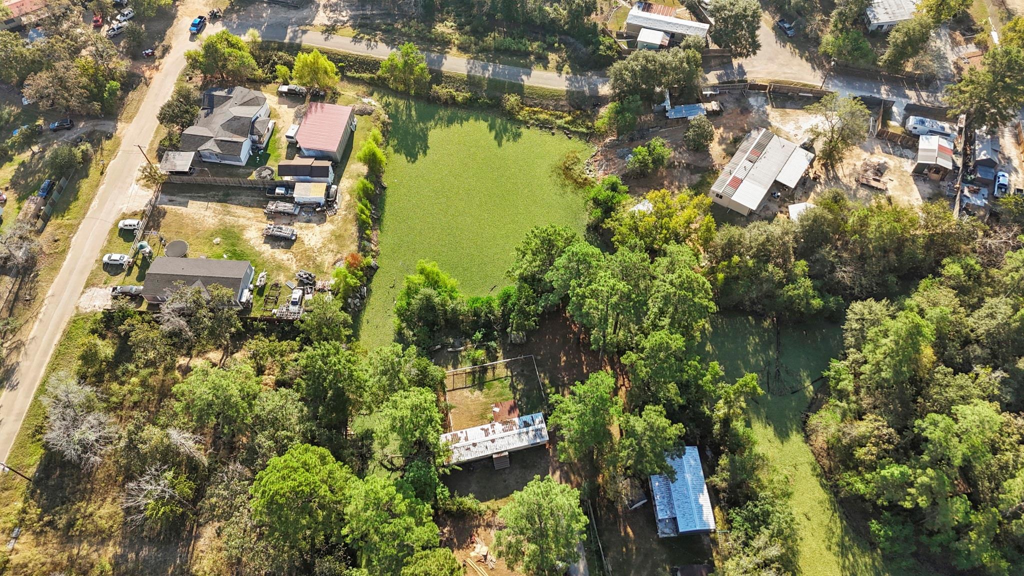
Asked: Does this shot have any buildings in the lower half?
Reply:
Yes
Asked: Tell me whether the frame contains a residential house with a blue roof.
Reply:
Yes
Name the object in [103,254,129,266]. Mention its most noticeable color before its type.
white vehicle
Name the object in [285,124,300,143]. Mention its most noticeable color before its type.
white vehicle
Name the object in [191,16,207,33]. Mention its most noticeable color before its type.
blue vehicle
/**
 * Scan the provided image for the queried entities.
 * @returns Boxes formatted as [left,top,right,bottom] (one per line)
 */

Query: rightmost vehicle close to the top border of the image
[776,20,796,36]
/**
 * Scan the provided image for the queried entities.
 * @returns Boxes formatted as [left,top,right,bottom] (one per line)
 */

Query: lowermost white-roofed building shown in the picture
[440,412,549,477]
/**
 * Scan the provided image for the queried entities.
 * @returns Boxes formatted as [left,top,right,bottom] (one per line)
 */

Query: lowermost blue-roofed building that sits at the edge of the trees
[646,445,715,537]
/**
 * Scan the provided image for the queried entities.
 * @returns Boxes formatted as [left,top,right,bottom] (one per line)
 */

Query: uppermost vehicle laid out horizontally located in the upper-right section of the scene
[904,116,956,143]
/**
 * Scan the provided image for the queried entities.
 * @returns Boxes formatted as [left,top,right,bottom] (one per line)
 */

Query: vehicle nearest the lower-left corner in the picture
[110,285,142,297]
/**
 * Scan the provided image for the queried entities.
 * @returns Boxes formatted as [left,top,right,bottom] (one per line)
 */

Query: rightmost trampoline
[255,166,274,180]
